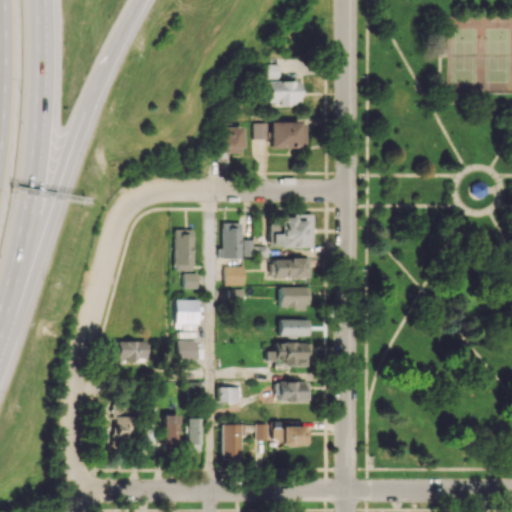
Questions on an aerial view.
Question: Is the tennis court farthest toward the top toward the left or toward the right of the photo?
right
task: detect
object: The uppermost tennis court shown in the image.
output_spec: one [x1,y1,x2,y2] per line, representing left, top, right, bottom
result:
[448,18,512,93]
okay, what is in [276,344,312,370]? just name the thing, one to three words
house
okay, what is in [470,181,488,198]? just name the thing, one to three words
gazebo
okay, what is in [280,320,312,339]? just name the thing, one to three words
house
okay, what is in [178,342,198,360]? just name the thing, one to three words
building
